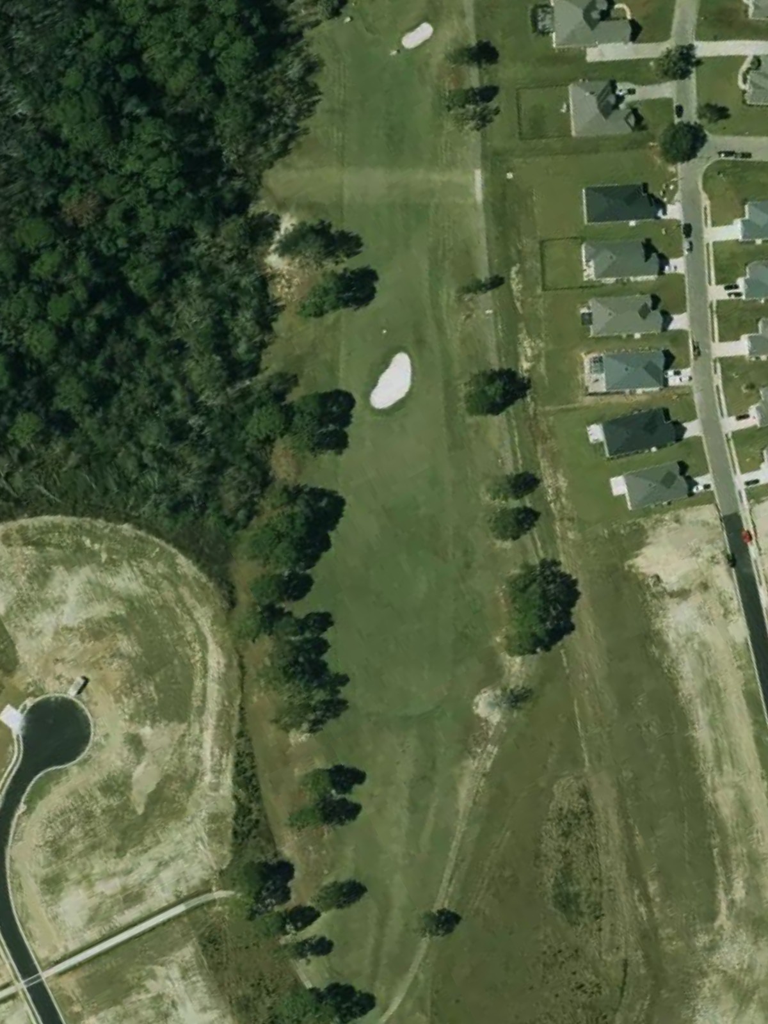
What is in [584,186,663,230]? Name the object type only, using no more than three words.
house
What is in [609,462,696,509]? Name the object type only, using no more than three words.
house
